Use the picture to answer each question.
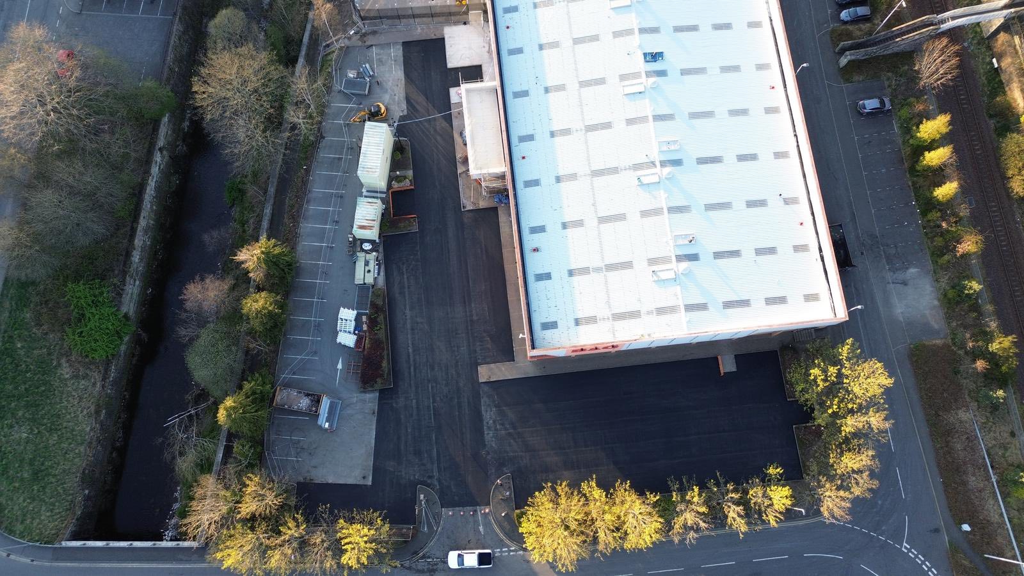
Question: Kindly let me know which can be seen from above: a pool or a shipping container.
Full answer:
It is a shipping container that can be seen here.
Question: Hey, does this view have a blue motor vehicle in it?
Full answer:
Yes, the photo shows a blue motor vehicle.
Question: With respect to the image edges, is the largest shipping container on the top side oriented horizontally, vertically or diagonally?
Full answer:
Seen from above, the largest shipping container on the top side lies vertically.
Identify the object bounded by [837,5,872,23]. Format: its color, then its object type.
blue car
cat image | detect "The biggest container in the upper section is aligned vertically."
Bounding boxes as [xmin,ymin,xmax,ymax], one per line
[357,121,391,186]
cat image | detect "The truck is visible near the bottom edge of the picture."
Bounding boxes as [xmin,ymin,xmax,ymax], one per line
[447,548,495,571]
